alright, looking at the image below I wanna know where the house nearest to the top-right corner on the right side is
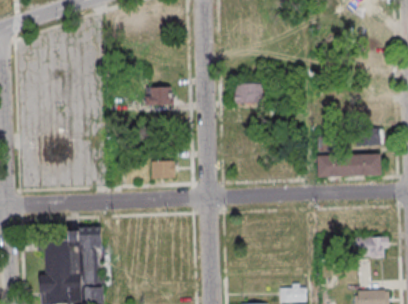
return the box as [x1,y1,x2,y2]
[354,130,386,150]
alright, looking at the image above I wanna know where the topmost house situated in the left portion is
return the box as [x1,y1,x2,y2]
[145,88,173,106]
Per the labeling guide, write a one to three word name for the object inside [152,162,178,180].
house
